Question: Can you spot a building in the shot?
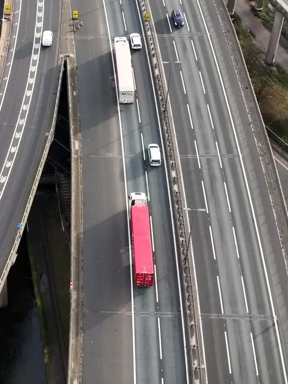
No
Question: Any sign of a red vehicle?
Yes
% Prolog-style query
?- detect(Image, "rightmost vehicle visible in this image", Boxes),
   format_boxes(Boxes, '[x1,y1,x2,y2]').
[172,8,185,26]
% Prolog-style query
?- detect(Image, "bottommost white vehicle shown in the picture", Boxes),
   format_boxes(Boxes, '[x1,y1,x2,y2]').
[148,143,163,166]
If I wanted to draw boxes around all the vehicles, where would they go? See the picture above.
[41,31,53,47]
[148,143,163,166]
[114,39,135,101]
[172,8,185,26]
[130,196,155,284]
[130,33,142,49]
